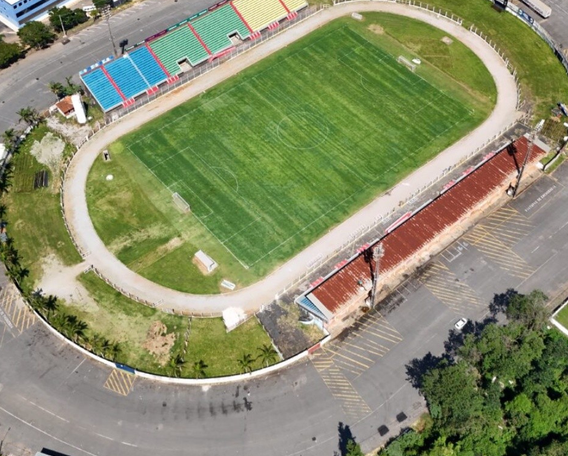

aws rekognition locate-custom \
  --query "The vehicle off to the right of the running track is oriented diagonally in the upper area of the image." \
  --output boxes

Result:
[520,0,550,20]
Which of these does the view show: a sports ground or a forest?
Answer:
sports ground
